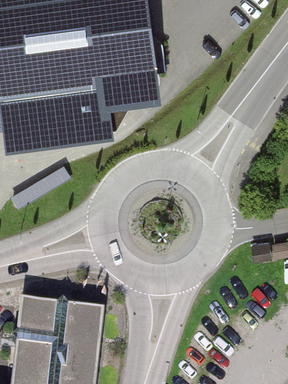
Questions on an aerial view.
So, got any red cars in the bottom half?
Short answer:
Yes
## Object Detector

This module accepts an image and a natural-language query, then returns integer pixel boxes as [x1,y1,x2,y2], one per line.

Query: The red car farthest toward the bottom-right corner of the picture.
[208,348,230,366]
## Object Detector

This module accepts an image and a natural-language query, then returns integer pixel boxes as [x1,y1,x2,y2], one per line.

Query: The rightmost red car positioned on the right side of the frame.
[250,286,270,308]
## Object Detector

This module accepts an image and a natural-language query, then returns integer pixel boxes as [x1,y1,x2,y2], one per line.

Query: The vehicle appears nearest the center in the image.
[109,241,122,264]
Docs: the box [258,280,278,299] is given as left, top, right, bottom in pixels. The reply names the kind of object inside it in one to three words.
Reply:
car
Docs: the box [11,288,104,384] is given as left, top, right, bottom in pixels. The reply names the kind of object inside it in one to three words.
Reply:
building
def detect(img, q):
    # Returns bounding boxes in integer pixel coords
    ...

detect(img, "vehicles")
[212,334,234,355]
[210,300,228,322]
[250,286,270,308]
[178,358,197,378]
[208,348,230,366]
[229,8,249,30]
[240,0,261,19]
[221,324,242,344]
[220,284,236,308]
[240,310,259,328]
[205,360,226,379]
[194,330,213,352]
[258,280,278,299]
[197,372,216,384]
[109,241,122,264]
[186,345,204,364]
[7,262,28,272]
[200,314,219,336]
[245,298,266,318]
[202,38,220,57]
[254,0,268,8]
[230,275,248,298]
